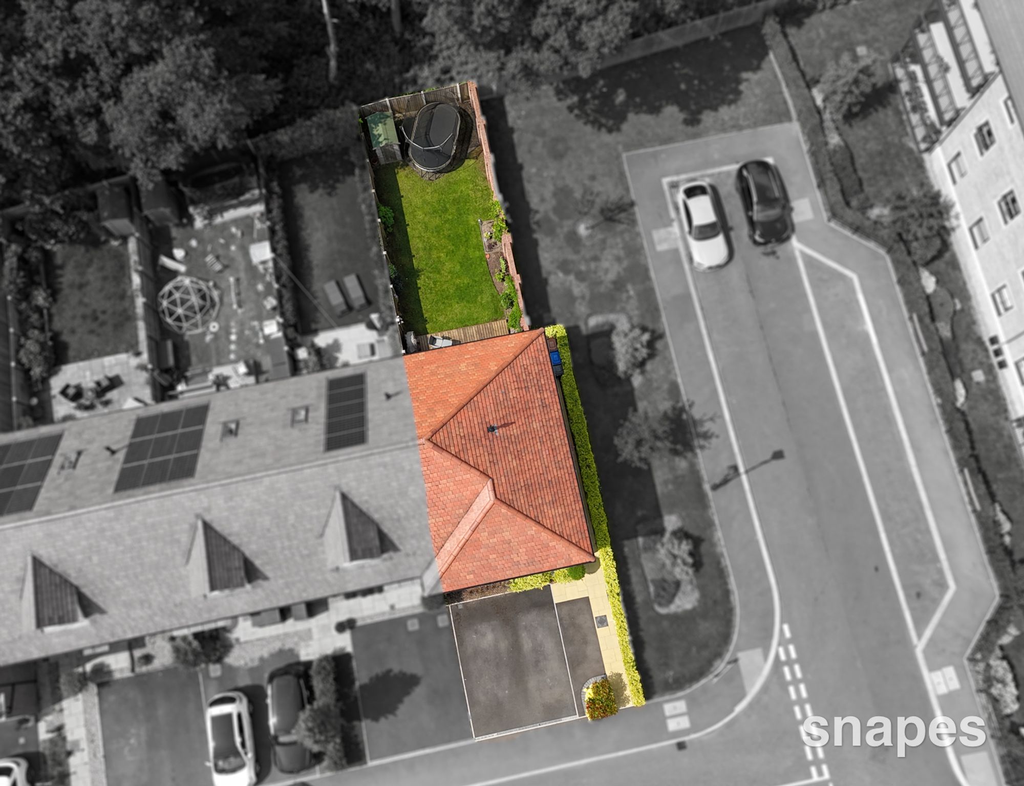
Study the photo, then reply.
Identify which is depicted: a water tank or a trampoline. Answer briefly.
trampoline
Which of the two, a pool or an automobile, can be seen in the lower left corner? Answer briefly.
automobile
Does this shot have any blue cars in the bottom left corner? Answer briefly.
No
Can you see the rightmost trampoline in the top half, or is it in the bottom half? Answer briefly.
top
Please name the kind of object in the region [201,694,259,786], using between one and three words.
car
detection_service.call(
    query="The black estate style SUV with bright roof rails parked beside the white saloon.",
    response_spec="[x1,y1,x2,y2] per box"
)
[741,158,796,249]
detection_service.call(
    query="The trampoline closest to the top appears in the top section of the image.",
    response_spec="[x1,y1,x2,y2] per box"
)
[399,105,464,178]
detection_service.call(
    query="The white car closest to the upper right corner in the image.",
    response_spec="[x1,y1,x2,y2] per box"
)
[678,178,732,272]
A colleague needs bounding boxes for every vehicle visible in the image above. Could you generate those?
[678,178,732,272]
[741,158,796,249]
[0,759,35,786]
[263,665,321,773]
[201,694,259,786]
